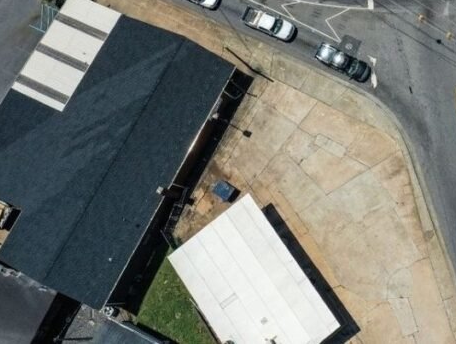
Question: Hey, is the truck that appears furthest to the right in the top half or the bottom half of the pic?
top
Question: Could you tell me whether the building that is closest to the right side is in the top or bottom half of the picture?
bottom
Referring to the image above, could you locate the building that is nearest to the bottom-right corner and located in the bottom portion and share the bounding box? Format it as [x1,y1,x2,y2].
[168,194,347,344]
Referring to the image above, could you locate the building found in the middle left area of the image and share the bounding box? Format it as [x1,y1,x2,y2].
[0,0,240,311]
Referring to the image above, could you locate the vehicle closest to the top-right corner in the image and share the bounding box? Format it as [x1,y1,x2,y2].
[314,42,372,80]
